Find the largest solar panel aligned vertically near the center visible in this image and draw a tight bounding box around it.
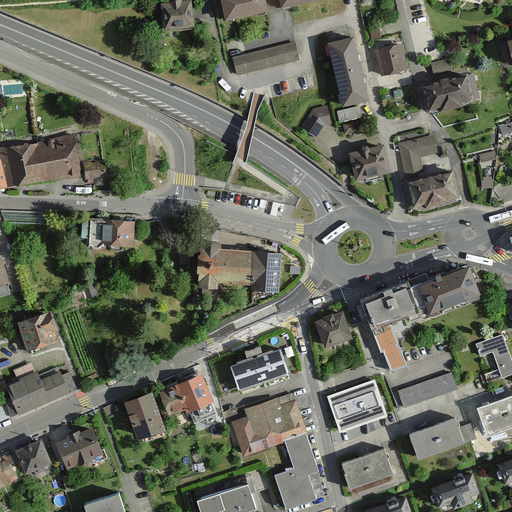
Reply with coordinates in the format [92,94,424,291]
[266,254,282,292]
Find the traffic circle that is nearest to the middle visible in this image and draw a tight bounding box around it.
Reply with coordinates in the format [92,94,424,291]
[338,230,372,264]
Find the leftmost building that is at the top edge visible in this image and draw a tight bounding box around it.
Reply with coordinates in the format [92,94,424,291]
[160,0,194,30]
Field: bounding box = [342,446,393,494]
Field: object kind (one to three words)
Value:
building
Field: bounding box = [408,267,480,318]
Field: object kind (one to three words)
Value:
building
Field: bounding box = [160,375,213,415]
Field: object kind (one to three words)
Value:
house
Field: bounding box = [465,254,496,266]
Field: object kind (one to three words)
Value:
vehicle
